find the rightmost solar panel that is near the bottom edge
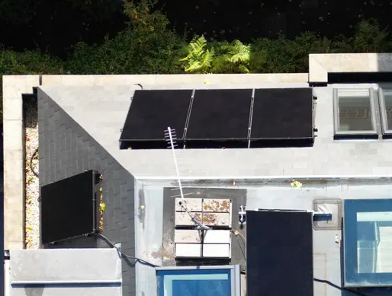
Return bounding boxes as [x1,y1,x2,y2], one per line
[247,210,312,296]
